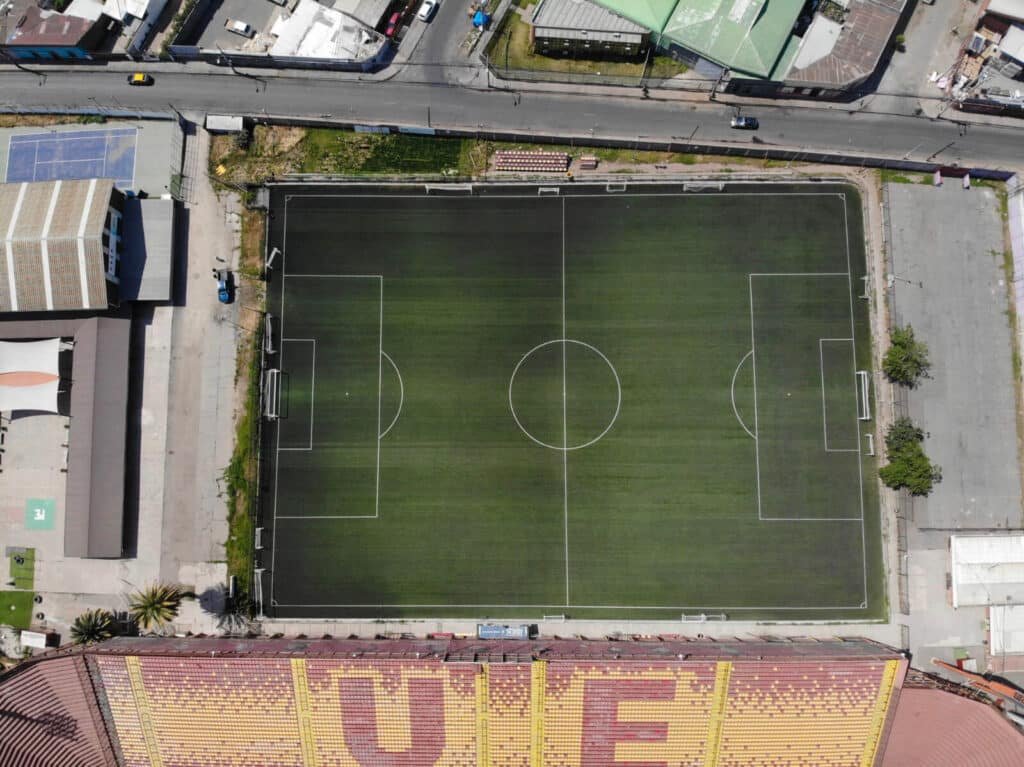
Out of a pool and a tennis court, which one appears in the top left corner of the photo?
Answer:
tennis court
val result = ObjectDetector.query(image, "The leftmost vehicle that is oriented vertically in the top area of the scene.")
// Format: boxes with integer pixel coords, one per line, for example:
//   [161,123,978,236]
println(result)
[216,269,231,301]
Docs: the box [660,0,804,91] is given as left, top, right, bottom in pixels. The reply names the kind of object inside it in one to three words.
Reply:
building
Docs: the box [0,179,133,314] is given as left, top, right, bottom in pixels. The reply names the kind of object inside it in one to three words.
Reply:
building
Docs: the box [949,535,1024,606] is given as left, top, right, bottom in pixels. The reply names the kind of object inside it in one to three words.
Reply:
shed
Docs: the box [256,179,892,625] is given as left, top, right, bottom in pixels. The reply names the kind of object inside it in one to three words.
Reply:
soccer field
